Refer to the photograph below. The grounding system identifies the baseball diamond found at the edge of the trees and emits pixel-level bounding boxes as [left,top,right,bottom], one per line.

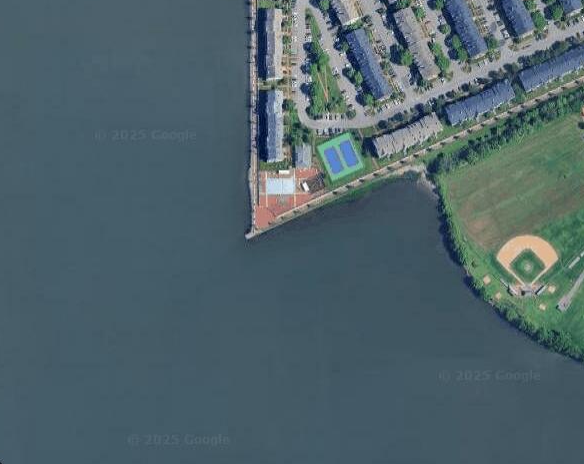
[493,234,560,290]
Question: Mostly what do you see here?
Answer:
water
